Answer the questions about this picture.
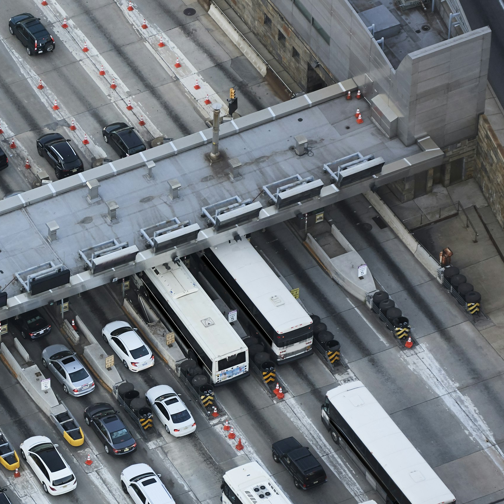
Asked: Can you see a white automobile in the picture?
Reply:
Yes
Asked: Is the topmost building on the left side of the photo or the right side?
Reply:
right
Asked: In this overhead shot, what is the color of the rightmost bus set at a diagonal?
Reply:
white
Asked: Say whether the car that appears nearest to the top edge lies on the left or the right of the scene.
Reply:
left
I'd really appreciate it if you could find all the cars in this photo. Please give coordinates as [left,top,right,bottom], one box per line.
[10,12,56,60]
[120,465,177,504]
[11,308,53,345]
[20,435,78,500]
[43,345,97,402]
[103,321,156,376]
[84,402,138,461]
[36,133,86,179]
[276,438,328,495]
[144,382,198,439]
[103,123,147,159]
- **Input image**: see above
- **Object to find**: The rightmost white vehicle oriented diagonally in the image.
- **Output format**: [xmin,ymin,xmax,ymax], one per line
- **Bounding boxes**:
[322,385,454,504]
